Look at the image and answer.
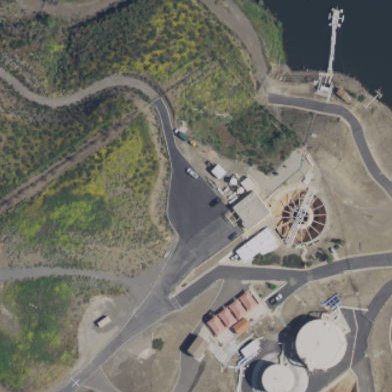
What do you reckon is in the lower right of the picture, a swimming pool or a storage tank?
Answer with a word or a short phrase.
storage tank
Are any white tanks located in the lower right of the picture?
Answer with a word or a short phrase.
Yes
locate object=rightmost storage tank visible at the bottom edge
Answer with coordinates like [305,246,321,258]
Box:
[296,320,350,374]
